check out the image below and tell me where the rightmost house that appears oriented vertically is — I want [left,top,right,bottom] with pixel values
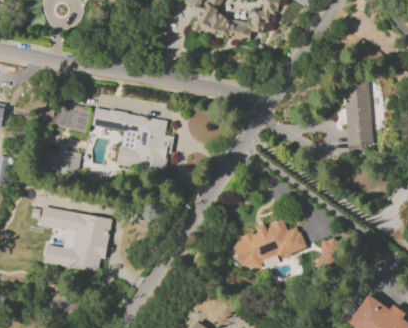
[348,84,374,150]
